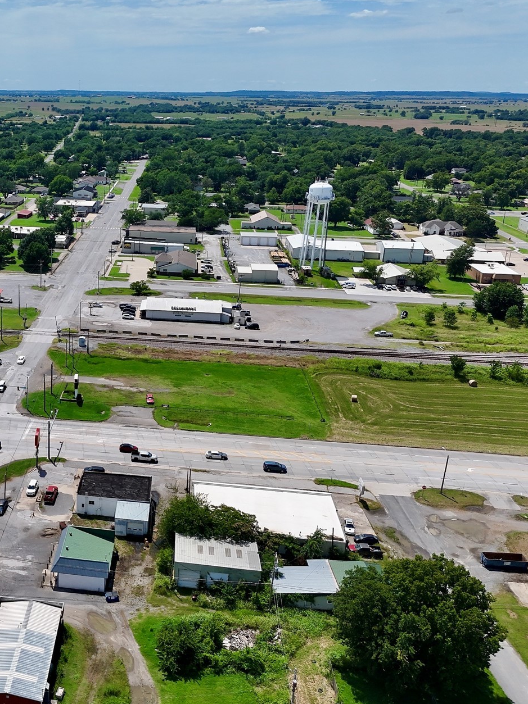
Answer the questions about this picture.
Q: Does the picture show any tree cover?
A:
Yes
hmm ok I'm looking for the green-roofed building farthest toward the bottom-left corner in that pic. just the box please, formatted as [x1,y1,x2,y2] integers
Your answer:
[40,523,116,591]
